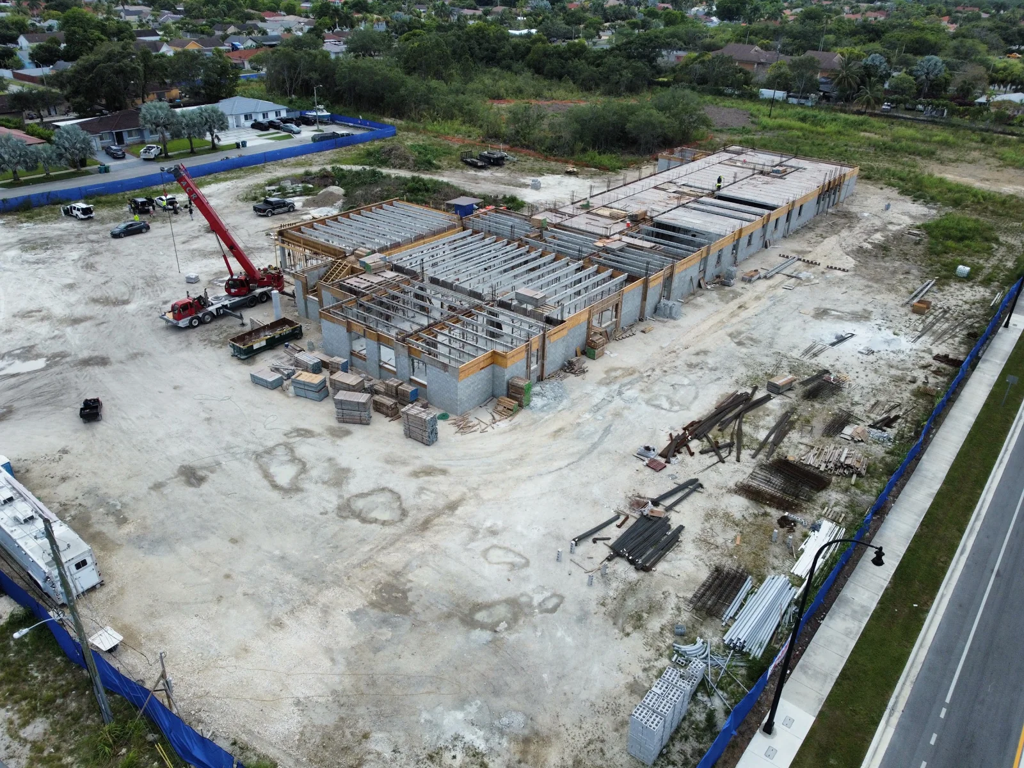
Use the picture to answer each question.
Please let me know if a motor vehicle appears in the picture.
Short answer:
Yes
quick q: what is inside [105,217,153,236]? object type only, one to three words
car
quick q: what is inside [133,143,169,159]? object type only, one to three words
vehicle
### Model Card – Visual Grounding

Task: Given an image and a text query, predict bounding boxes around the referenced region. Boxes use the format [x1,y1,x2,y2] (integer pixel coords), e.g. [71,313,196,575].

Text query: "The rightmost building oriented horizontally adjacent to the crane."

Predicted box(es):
[274,143,860,416]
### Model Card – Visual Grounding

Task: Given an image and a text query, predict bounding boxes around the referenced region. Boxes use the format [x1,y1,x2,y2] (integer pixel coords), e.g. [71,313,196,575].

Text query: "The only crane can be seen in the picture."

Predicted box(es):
[150,155,299,327]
